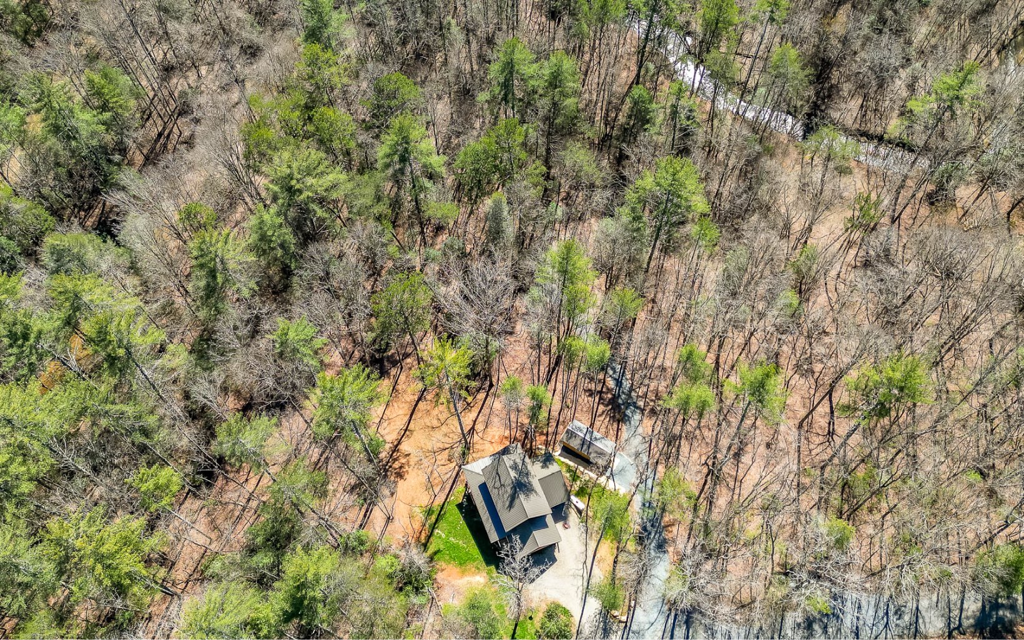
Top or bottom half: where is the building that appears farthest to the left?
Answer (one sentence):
Seen from above, the building that appears farthest to the left lies in the bottom half of the view.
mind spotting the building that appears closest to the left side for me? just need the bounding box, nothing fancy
[462,444,571,563]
